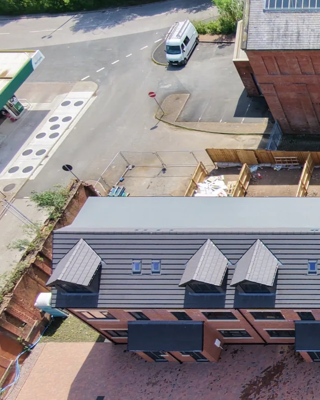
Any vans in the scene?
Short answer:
Yes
